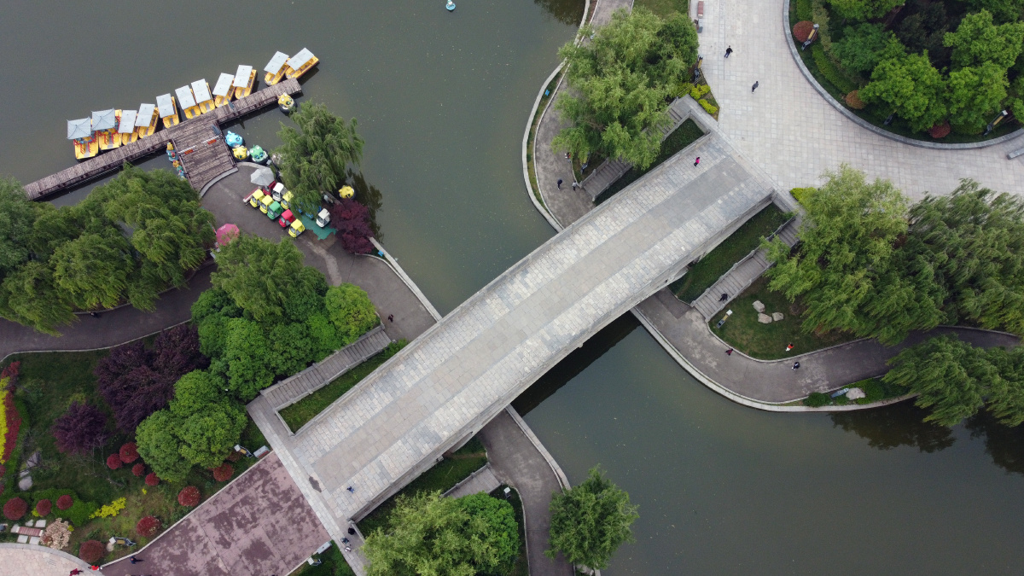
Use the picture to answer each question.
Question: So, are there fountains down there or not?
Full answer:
No, there is no fountain in the image.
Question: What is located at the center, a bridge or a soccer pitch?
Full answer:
Looking at the center, you will find a bridge.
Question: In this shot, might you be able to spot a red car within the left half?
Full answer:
Yes, a red car is visible within the left half.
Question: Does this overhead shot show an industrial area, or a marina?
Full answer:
The area seen from above is a marina.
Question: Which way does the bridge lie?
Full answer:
In this picture, the bridge lies on a diagonal.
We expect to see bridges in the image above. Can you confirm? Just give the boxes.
[293,130,774,521]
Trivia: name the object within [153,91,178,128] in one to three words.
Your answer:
boat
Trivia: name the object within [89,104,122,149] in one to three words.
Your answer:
boat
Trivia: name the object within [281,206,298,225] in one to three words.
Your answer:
car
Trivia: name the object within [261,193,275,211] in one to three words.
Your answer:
car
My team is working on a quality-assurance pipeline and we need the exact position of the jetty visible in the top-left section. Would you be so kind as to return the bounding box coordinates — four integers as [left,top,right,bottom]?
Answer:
[24,78,300,198]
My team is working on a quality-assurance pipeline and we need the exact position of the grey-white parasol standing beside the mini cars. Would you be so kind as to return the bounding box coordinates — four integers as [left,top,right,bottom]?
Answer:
[252,165,277,187]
